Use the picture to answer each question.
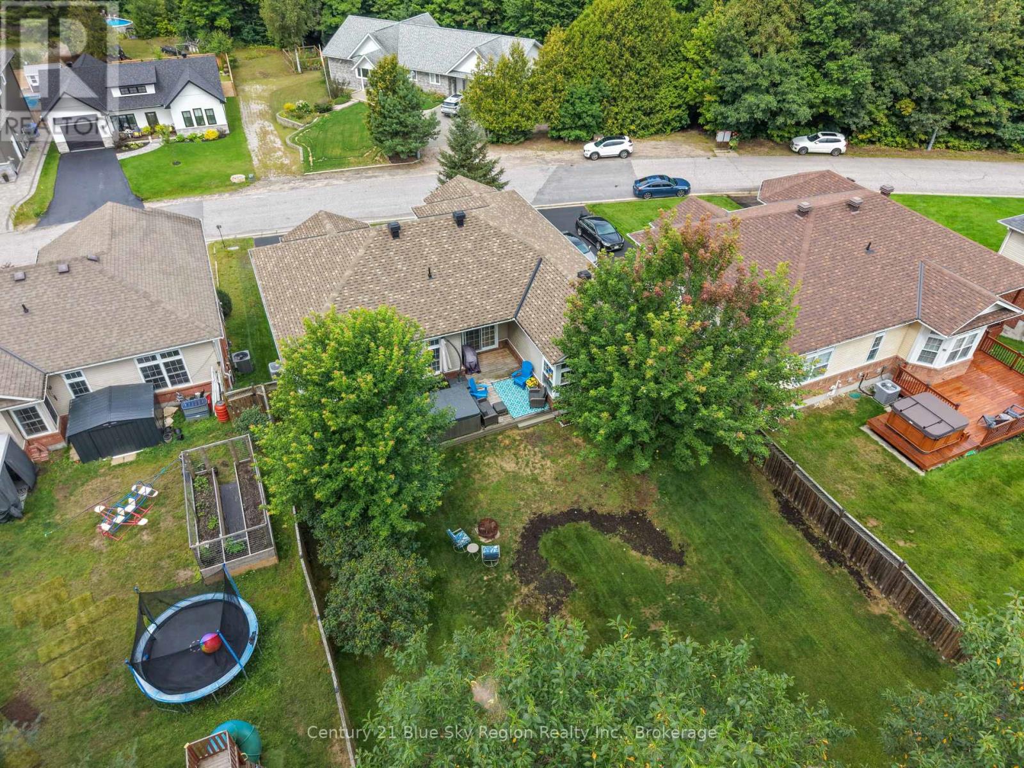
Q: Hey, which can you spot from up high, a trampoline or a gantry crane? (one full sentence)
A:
This aerial view contains a trampoline.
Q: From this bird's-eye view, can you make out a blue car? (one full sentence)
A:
Yes, there is a blue car in the image.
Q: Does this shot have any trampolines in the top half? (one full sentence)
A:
No, I can find no trampoline in the top half.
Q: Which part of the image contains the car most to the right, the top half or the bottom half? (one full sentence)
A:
The top half of the photo is where the car most to the right is.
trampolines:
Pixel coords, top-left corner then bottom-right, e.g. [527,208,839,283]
[134,575,263,714]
